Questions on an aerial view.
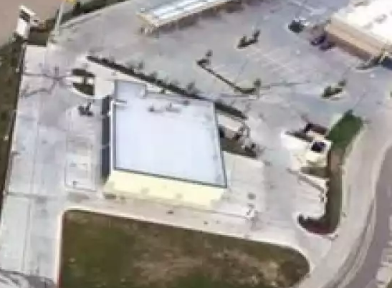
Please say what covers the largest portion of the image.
paved ground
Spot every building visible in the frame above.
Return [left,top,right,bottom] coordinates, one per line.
[320,7,392,67]
[100,84,222,210]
